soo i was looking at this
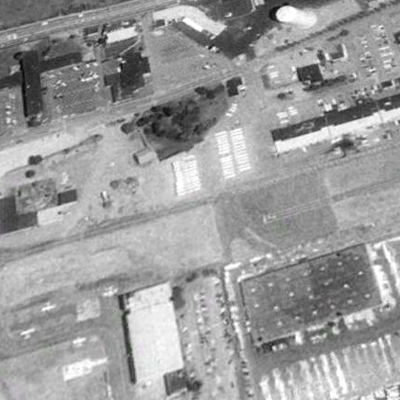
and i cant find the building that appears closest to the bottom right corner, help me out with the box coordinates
[240,244,382,346]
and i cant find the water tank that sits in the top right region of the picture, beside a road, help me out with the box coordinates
[282,7,312,33]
